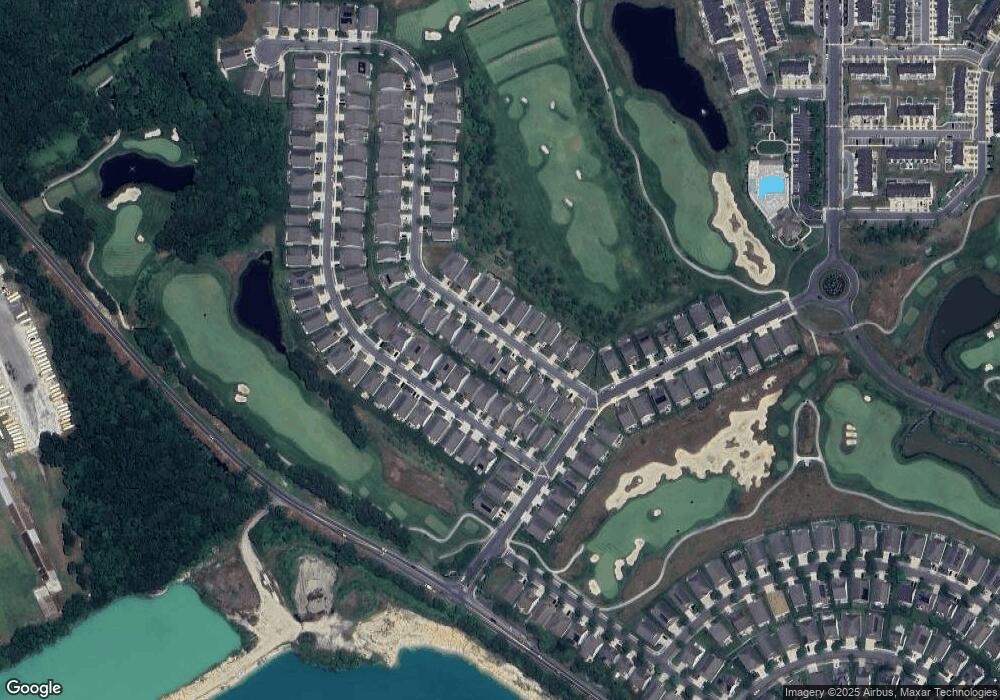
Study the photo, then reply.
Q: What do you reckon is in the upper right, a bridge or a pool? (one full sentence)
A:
The one visible in the upper right is a pool.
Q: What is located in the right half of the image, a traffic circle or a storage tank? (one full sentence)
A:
It is a traffic circle that can be seen in the right half of the image.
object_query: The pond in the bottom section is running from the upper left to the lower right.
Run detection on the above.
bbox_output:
[902,413,1000,502]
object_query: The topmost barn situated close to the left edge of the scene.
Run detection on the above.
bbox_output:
[0,463,54,575]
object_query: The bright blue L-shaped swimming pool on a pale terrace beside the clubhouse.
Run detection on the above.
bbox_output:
[748,160,789,218]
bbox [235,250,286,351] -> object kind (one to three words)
pond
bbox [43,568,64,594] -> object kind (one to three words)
barn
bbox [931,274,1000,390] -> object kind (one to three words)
pond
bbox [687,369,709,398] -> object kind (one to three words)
house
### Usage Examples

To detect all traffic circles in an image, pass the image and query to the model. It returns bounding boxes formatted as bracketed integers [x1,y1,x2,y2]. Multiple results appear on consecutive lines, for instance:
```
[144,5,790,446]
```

[807,259,858,309]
